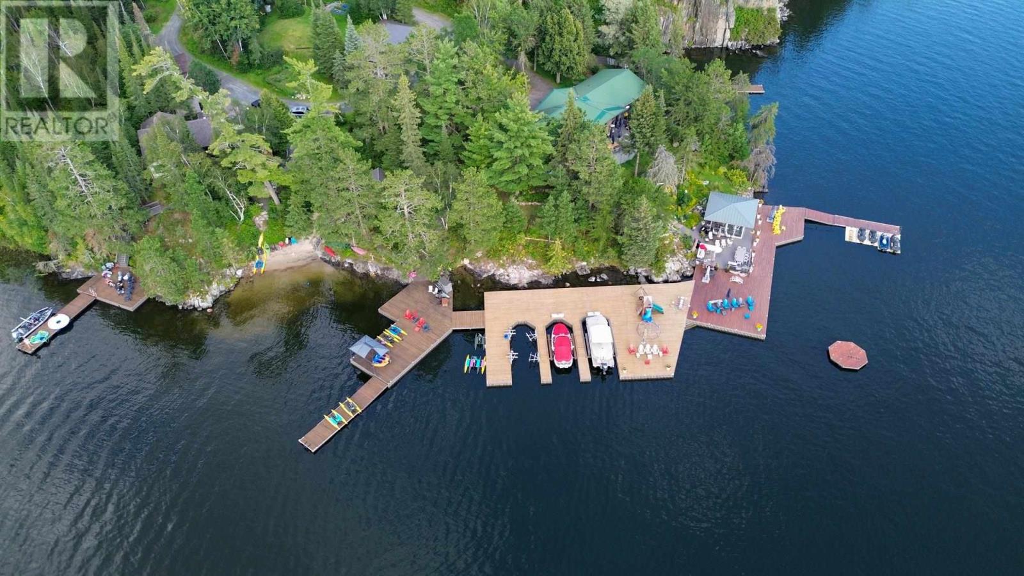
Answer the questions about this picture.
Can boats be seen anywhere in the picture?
Yes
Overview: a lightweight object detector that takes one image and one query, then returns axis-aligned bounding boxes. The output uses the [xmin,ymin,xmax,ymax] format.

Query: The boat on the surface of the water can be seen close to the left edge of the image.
[10,308,51,337]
